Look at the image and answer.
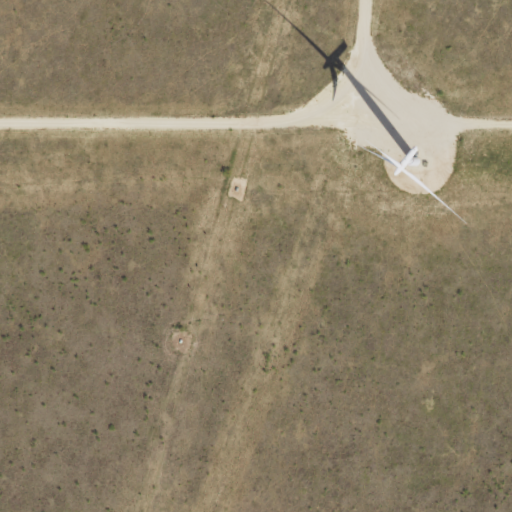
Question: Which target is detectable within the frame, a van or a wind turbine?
wind turbine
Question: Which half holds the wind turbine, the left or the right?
right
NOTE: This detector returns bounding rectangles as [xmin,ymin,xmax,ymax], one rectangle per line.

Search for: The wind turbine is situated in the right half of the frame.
[362,144,465,221]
